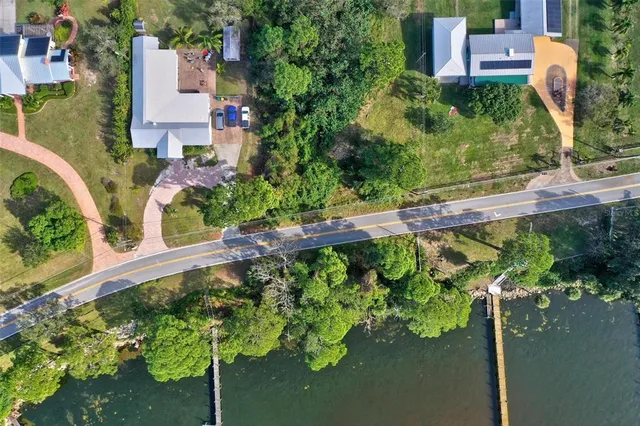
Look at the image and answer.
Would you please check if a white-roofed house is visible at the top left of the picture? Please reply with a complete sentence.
Yes, the scene does show a white-roofed house at the top left of the picture.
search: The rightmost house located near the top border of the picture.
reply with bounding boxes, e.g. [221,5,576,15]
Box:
[464,0,562,86]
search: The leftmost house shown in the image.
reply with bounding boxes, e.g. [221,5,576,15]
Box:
[0,24,79,94]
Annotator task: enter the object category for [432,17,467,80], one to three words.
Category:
building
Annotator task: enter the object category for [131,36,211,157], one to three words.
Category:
house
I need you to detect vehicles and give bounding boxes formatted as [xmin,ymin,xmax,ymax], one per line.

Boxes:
[215,109,224,130]
[240,106,249,129]
[226,106,236,128]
